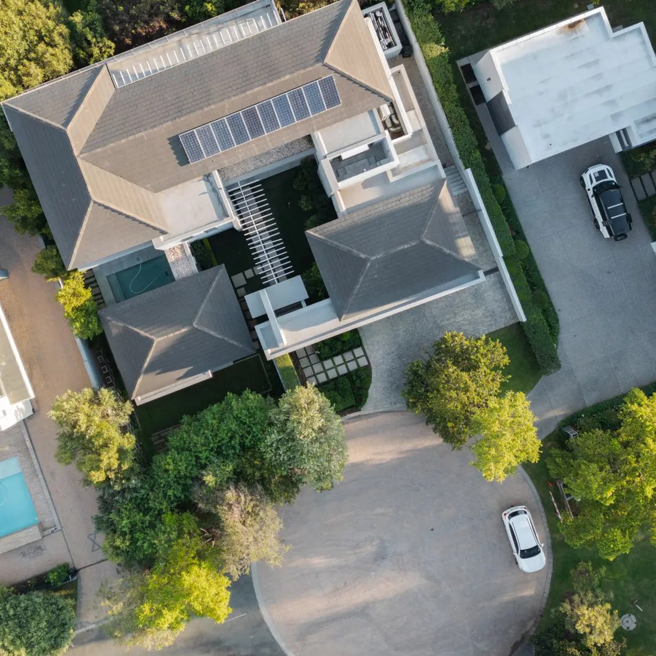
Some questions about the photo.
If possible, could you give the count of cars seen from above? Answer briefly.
2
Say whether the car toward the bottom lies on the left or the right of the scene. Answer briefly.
right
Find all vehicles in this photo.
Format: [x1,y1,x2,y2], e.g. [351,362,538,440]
[501,504,544,573]
[580,164,634,240]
